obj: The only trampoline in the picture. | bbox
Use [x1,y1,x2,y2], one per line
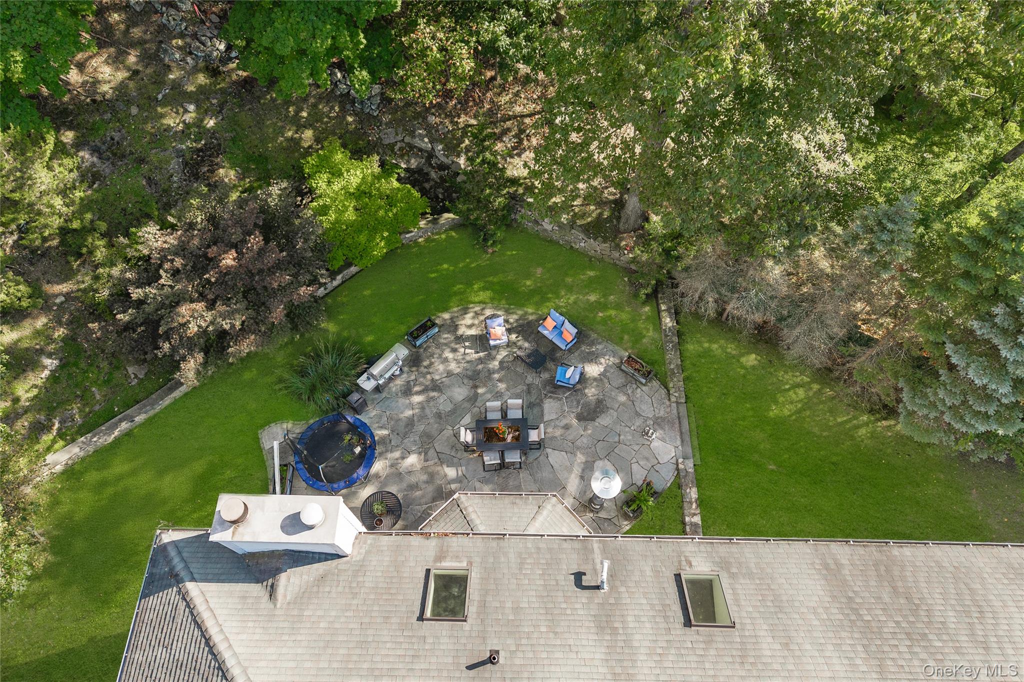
[284,397,381,497]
